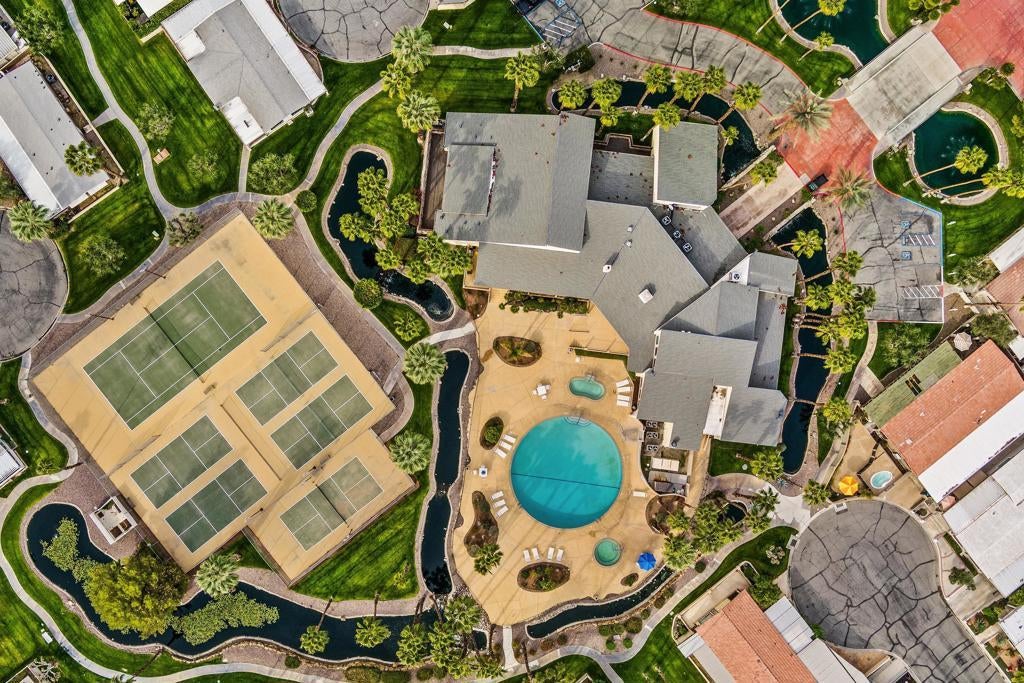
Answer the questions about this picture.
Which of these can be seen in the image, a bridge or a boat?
bridge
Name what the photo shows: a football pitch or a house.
house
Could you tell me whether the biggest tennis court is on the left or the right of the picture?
left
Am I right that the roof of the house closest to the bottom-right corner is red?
No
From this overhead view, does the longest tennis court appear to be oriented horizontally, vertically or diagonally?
diagonally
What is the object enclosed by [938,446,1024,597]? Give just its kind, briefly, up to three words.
house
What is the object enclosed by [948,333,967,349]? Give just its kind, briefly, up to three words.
umbrella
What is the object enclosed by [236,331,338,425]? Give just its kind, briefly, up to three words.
sports court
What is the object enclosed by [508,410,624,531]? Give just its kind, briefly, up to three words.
swimming pool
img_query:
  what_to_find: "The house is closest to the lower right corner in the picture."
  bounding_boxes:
[996,604,1024,655]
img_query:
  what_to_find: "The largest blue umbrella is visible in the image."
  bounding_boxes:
[637,550,655,569]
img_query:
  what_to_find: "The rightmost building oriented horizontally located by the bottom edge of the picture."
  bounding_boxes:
[677,589,870,683]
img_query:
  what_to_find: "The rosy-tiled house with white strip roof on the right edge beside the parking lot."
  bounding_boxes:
[979,228,1024,334]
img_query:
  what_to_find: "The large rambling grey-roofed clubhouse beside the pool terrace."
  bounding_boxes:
[435,112,797,450]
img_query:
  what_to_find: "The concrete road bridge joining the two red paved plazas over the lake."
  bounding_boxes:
[836,17,984,154]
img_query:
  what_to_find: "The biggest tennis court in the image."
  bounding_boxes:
[84,261,267,430]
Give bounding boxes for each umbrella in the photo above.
[948,333,967,349]
[836,475,855,494]
[637,550,655,569]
